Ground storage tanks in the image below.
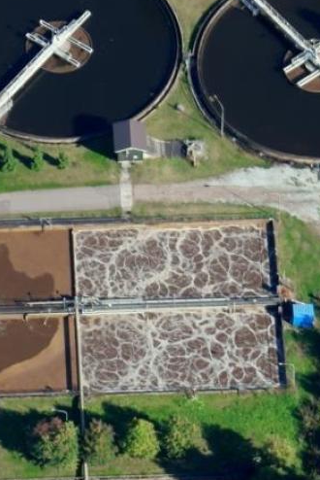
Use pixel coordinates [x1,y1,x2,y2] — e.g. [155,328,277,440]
[0,0,181,145]
[193,0,320,165]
